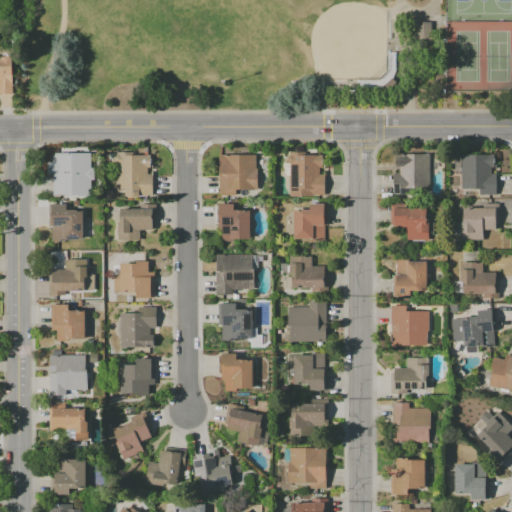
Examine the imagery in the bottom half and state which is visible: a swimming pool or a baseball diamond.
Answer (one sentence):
It is a swimming pool that can be seen in the bottom half.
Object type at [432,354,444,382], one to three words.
swimming pool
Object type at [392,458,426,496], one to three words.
house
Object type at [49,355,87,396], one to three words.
house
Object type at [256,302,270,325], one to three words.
swimming pool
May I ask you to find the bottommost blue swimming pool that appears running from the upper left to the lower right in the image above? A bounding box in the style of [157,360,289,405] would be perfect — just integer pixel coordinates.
[246,450,268,471]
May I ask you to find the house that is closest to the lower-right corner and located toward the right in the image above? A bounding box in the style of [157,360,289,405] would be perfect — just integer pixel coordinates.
[456,464,487,501]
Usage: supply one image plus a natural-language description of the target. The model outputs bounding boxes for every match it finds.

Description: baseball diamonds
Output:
[311,2,387,80]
